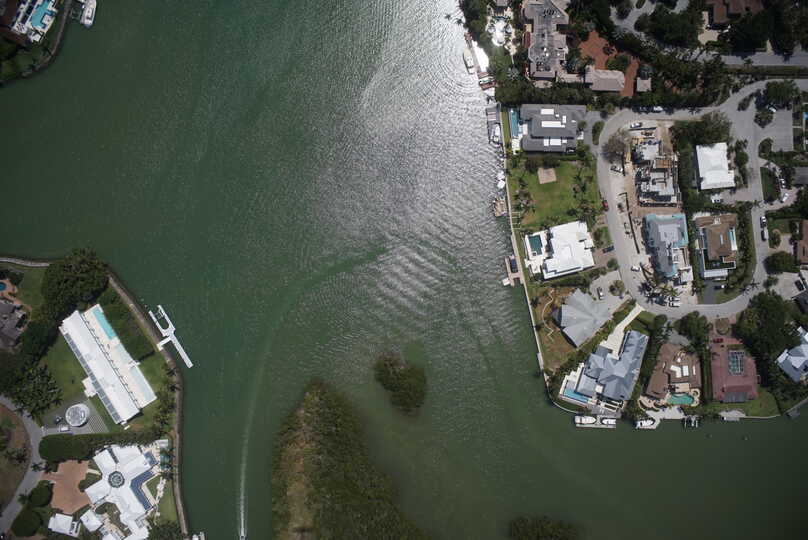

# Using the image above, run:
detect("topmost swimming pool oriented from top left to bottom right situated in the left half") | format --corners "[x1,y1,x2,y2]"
[92,306,117,341]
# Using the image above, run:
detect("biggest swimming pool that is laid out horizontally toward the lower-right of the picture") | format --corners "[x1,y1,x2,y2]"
[666,392,695,407]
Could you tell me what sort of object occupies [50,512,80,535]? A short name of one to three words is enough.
building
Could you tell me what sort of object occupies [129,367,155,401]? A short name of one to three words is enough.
swimming pool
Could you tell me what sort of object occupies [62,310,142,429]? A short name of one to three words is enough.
house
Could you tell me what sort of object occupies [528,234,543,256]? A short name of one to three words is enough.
swimming pool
